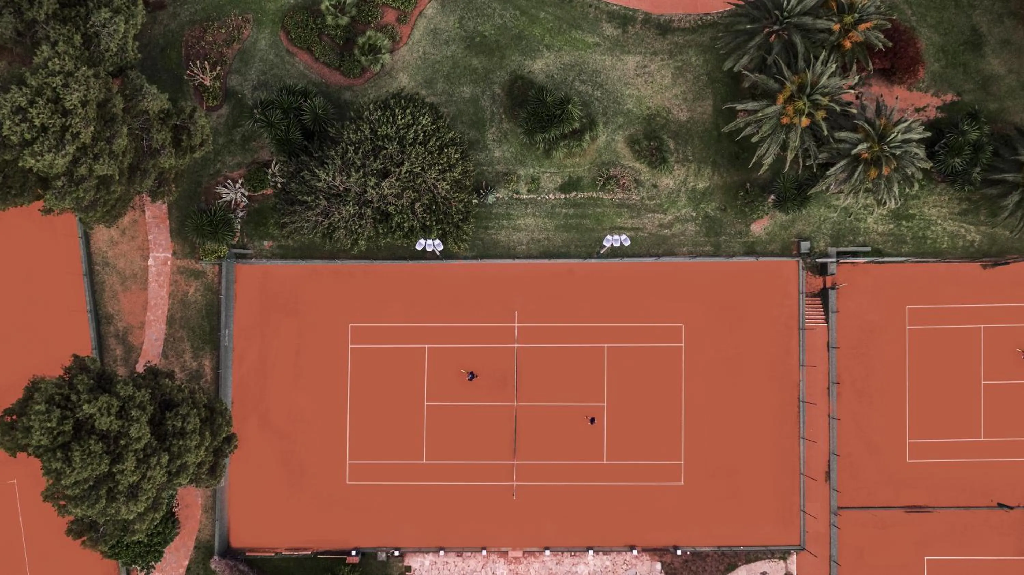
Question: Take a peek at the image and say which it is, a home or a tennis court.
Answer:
tennis court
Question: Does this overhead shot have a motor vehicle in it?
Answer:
No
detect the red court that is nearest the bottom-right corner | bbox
[837,508,1024,575]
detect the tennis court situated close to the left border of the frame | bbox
[0,208,121,575]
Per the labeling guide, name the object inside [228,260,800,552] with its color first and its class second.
red tennis court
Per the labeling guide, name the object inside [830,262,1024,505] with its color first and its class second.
red tennis court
